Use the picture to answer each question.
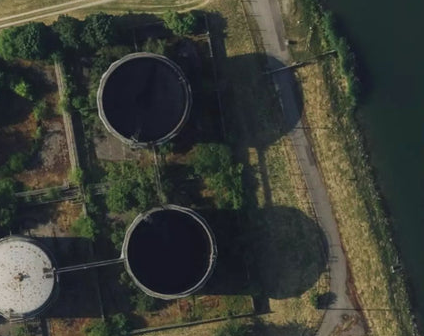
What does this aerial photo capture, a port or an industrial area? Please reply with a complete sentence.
It's an industrial area.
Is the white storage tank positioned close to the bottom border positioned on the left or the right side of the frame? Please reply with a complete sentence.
The white storage tank positioned close to the bottom border sits on the left side.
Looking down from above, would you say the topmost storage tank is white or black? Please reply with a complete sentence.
In this view, the topmost storage tank is black.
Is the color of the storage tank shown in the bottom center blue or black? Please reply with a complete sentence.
The storage tank shown in the bottom center is black.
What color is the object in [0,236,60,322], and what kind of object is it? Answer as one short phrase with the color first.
white storage tank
